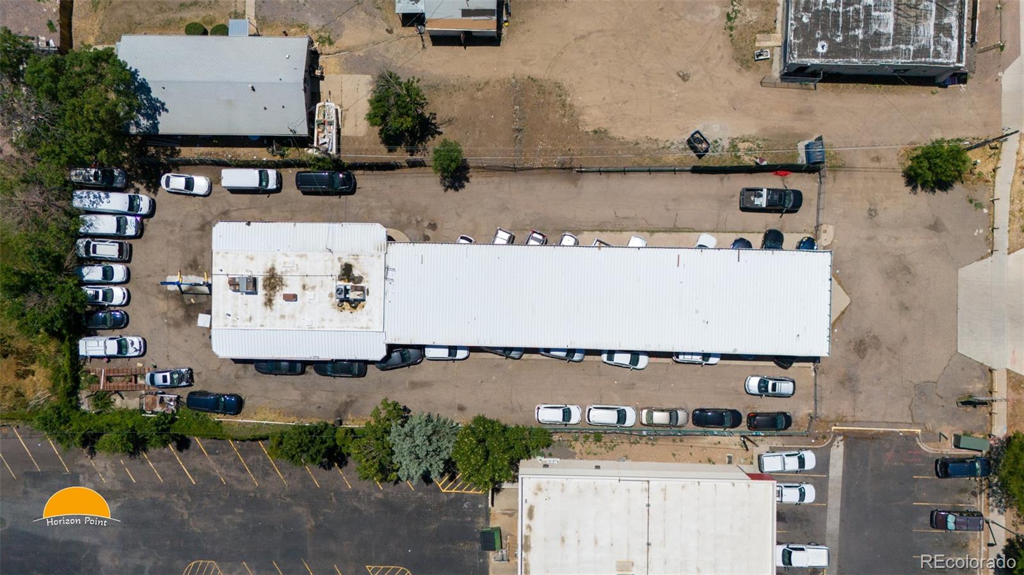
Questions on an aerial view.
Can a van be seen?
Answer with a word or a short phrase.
Yes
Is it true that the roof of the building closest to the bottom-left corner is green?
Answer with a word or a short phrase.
No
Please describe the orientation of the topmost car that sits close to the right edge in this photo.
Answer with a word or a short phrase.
horizontally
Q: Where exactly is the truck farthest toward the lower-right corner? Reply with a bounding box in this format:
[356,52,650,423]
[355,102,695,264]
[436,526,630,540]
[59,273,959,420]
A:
[927,508,986,532]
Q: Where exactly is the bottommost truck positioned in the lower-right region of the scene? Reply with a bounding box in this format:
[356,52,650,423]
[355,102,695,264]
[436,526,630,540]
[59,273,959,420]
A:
[776,542,830,568]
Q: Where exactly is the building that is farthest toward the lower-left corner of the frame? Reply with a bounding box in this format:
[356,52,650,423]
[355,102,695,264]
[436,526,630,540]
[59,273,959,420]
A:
[211,221,387,362]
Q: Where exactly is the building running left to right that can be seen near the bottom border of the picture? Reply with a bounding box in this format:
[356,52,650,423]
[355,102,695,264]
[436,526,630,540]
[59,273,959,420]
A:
[519,461,776,575]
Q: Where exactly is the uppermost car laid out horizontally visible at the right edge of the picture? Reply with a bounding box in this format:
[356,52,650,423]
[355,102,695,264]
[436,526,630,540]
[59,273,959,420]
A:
[932,455,990,480]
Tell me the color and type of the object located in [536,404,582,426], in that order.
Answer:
white car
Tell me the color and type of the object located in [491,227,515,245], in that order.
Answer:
white vehicle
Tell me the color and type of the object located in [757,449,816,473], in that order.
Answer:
white truck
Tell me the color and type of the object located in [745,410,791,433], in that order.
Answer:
black car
